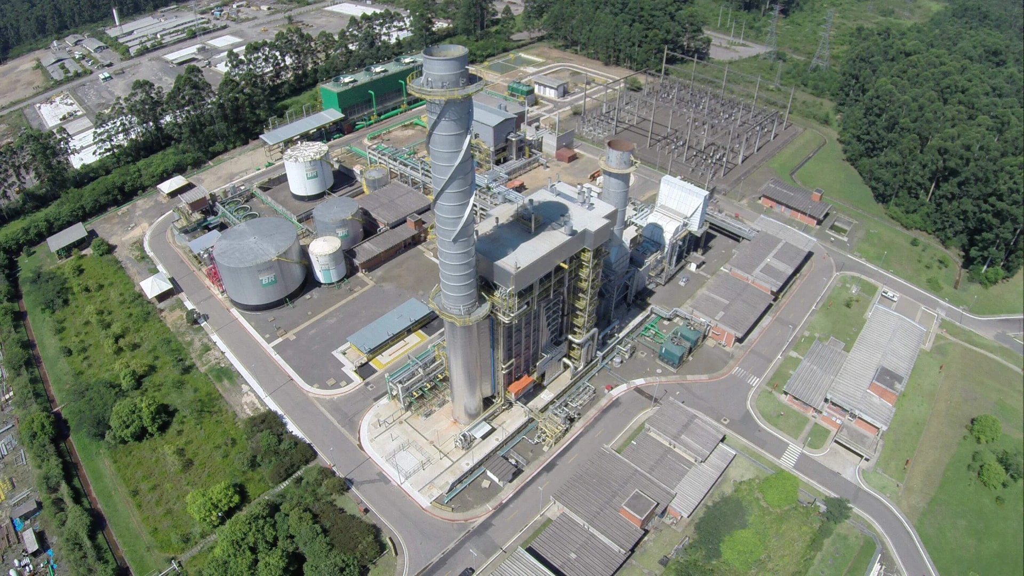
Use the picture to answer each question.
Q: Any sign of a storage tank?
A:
Yes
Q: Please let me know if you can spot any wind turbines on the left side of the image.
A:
No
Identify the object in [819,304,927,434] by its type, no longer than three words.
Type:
building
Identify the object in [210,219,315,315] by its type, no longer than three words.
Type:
storage tank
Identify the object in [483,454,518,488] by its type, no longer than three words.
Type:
shed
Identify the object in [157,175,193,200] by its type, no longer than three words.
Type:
tent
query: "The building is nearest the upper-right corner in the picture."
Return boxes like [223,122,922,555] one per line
[760,178,832,226]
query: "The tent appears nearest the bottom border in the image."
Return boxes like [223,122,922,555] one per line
[140,272,176,306]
